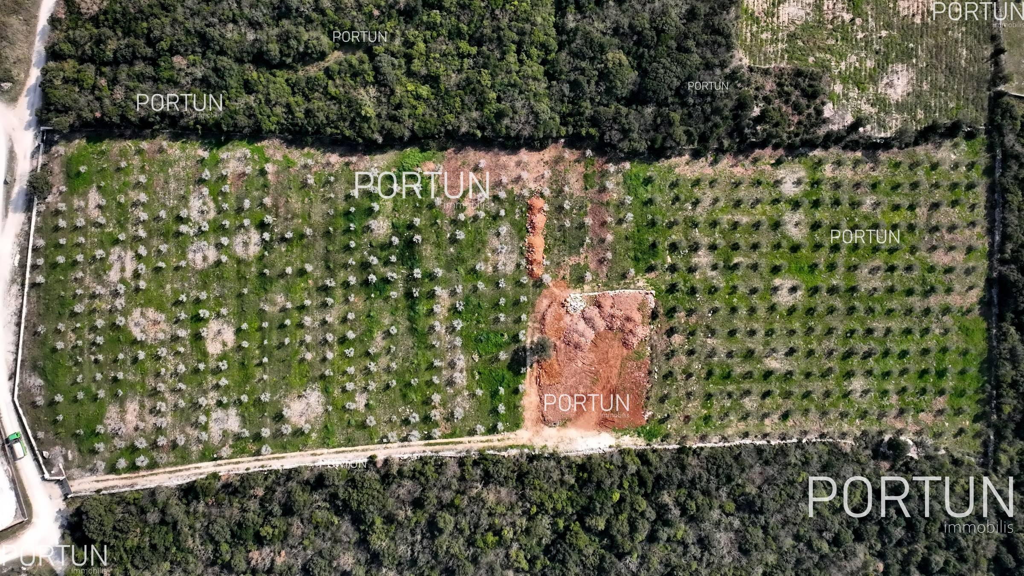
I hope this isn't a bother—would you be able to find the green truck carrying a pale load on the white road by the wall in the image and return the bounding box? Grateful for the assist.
[9,433,32,462]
